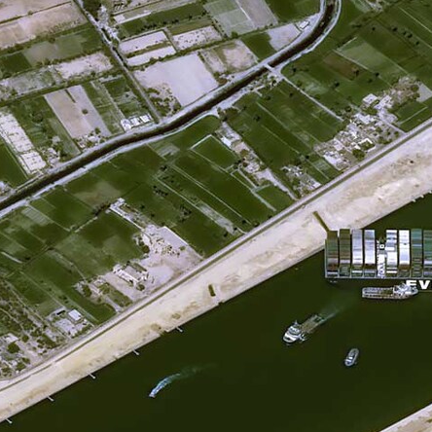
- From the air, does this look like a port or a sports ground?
port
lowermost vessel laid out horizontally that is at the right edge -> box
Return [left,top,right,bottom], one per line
[362,284,418,299]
